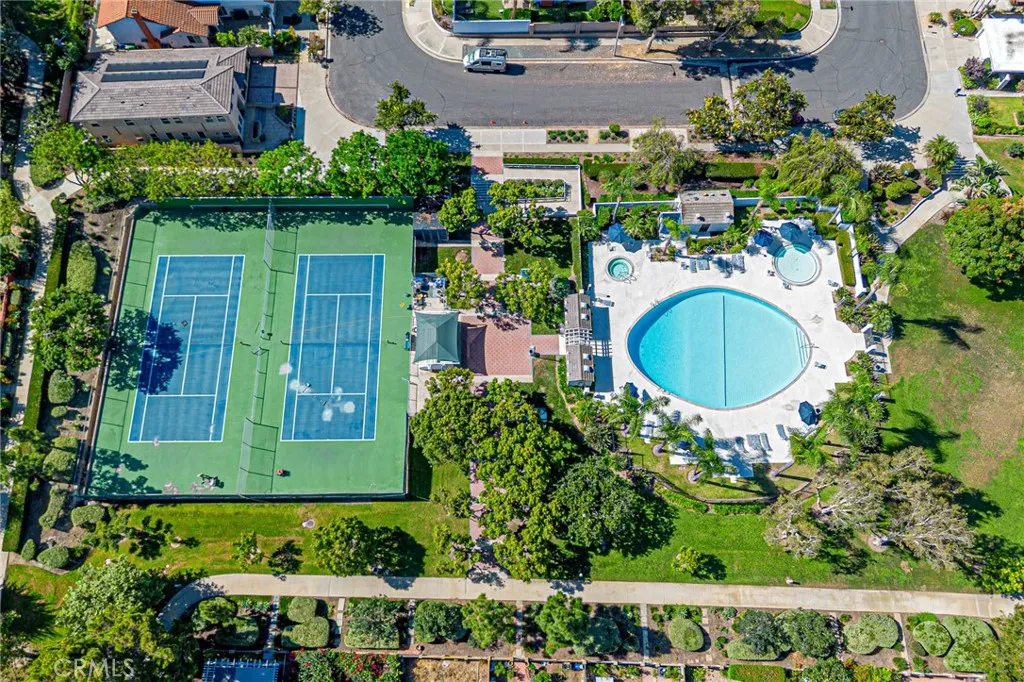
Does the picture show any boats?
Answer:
No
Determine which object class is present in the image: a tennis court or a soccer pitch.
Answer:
tennis court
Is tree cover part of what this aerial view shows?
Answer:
Yes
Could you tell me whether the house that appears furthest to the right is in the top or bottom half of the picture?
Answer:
top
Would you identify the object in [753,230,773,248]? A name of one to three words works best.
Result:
umbrella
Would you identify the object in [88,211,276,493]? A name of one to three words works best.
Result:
tennis court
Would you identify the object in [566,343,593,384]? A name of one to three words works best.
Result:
building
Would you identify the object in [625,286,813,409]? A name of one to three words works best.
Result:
swimming pool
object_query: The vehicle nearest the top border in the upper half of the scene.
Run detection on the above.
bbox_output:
[462,48,506,73]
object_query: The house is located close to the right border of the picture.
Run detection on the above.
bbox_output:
[970,18,1024,90]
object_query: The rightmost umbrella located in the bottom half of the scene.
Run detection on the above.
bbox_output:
[794,403,819,424]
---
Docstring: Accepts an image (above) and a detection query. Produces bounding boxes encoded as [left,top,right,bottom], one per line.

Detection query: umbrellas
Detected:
[606,224,629,244]
[778,223,801,243]
[619,382,638,401]
[794,403,819,424]
[753,230,773,248]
